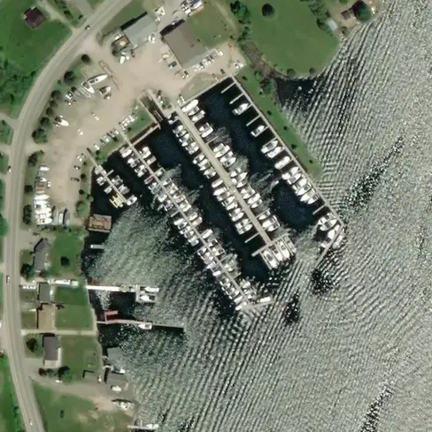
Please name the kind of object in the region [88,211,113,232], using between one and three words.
building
